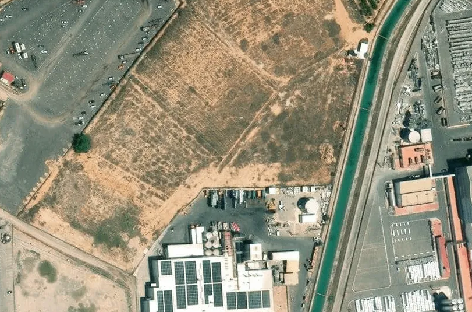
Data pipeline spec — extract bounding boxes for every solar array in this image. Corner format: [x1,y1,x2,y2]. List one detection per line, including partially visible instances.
[174,262,184,285]
[237,292,247,310]
[226,293,237,310]
[176,286,187,309]
[164,290,173,312]
[157,290,164,312]
[160,261,172,276]
[214,284,223,306]
[204,284,213,304]
[263,290,271,307]
[187,285,198,305]
[212,263,222,282]
[202,261,212,282]
[185,261,197,284]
